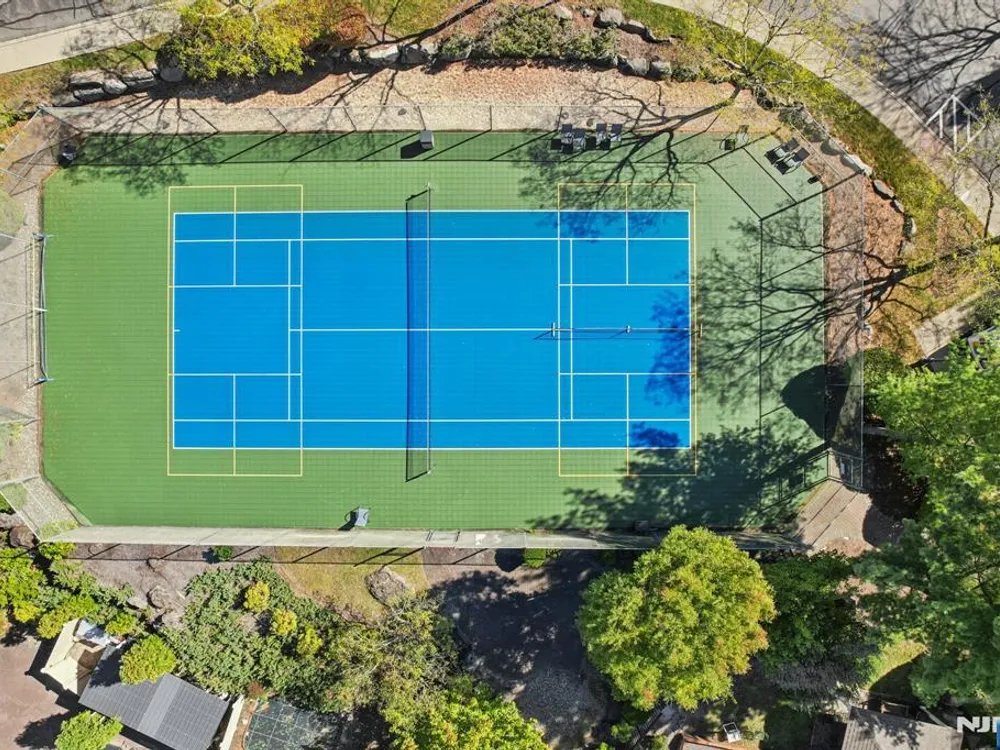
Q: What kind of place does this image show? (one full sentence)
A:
This image shows a sports ground.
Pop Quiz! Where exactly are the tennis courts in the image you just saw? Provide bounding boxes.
[38,133,823,527]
